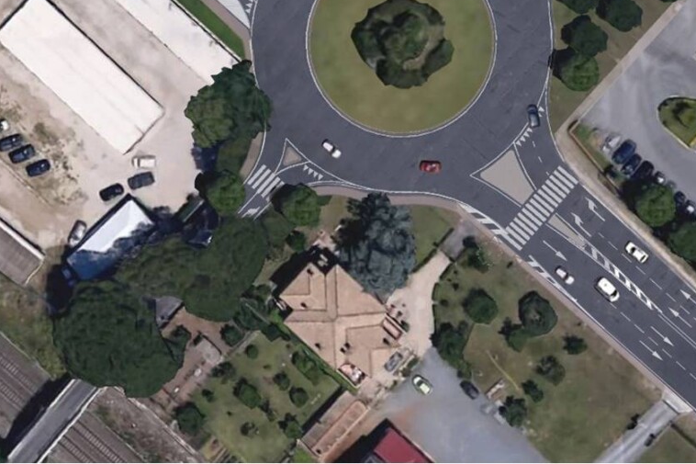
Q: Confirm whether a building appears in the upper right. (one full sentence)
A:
No, the scene shows no building in the upper right.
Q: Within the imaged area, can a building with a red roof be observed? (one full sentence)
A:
Yes, a building with a red roof appears in the view.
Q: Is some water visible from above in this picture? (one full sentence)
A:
No, there's no water in this view.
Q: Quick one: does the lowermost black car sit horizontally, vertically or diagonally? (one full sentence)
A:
From this overhead view, the lowermost black car appears to run diagonally.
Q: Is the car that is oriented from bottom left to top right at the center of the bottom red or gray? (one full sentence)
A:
The car that is oriented from bottom left to top right at the center of the bottom looks gray in the image.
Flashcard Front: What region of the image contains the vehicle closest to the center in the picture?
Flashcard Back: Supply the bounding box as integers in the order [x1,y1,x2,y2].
[321,139,342,159]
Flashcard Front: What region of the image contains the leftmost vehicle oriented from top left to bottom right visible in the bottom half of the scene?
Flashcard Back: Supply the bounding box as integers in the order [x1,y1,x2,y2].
[411,374,432,394]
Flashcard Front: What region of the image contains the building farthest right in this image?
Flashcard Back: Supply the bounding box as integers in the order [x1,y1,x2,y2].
[359,420,437,464]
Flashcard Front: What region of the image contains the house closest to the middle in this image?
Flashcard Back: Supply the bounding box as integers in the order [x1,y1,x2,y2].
[279,263,401,390]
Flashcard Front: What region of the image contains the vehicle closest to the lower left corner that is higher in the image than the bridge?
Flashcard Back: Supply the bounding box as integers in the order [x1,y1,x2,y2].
[69,220,87,244]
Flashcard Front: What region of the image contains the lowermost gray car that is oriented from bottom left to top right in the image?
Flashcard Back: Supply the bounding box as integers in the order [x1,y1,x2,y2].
[383,349,404,372]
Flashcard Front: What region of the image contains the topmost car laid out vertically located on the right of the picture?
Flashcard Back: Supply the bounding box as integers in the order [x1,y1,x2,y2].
[527,104,540,128]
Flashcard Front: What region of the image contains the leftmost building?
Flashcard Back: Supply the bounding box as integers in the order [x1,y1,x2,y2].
[0,220,44,286]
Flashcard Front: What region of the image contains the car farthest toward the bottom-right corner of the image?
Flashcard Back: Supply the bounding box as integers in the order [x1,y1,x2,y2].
[595,275,621,303]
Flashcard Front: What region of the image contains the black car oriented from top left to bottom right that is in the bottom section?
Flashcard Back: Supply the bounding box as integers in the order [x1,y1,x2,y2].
[458,379,480,400]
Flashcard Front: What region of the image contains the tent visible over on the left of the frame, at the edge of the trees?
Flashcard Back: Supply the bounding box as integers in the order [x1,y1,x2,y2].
[65,198,157,282]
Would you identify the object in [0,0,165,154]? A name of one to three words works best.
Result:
shed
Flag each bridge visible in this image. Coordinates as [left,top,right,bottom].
[2,382,99,464]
